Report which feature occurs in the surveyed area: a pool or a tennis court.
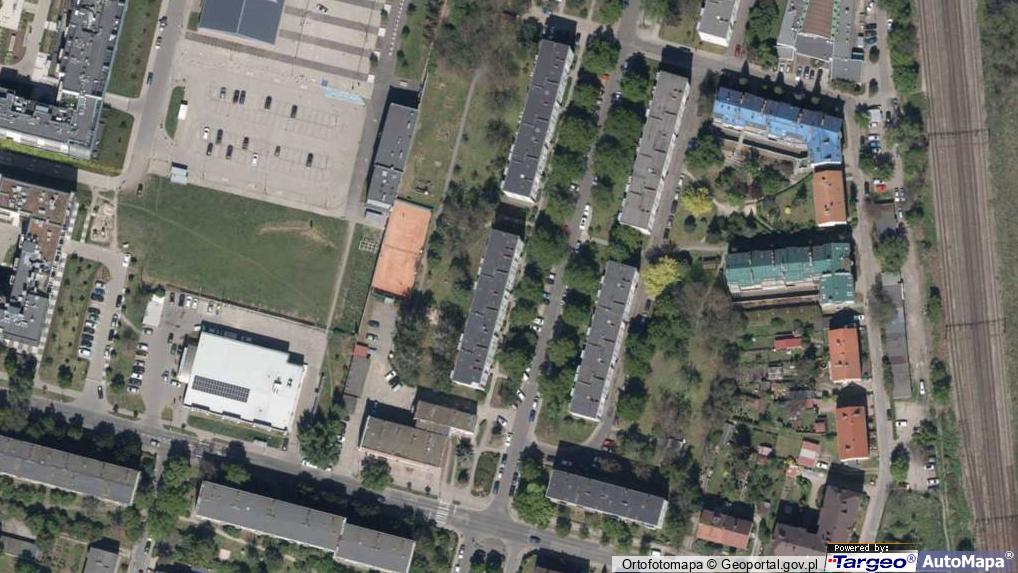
tennis court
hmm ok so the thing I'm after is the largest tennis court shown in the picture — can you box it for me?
[373,199,431,296]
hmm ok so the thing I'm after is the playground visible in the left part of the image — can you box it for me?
[88,196,114,246]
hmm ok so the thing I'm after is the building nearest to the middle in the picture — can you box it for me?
[451,228,526,390]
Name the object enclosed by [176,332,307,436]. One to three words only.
building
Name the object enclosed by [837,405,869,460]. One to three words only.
house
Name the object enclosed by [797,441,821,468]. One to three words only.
shed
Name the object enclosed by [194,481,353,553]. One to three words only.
building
